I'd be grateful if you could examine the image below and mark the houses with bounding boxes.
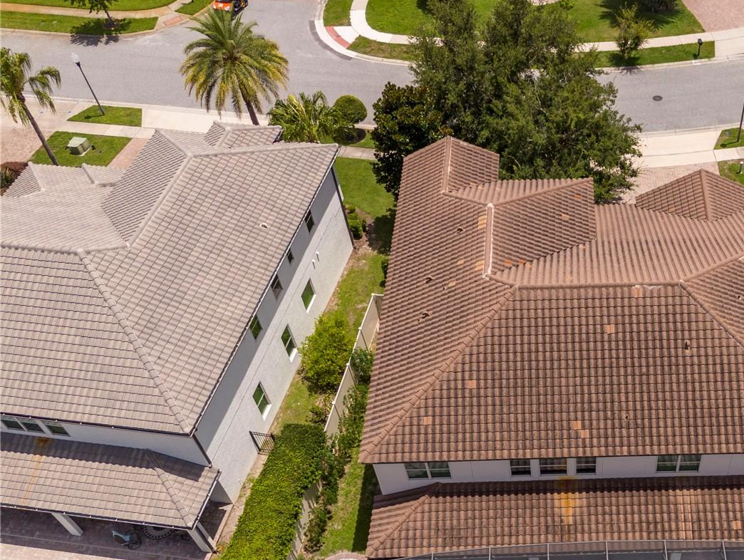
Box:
[0,118,345,556]
[354,134,744,560]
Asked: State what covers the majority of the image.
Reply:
buildings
